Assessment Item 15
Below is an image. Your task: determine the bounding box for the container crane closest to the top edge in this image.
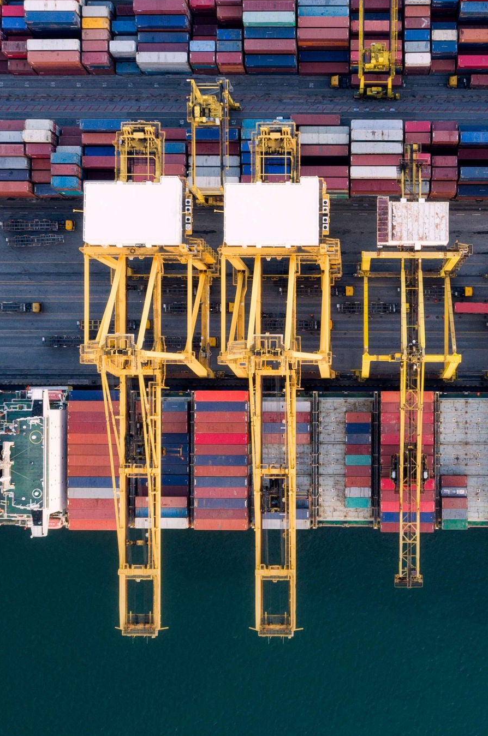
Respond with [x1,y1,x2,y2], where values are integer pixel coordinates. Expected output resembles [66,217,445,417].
[353,0,401,98]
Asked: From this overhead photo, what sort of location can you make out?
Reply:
port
